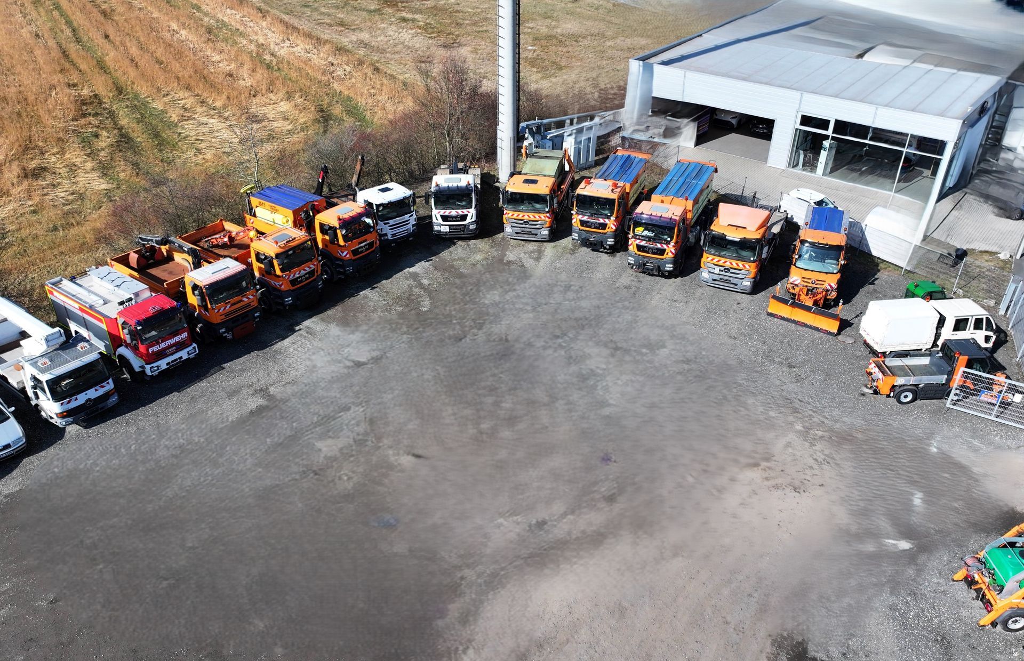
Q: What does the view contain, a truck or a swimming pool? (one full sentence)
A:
There is a truck in the scene.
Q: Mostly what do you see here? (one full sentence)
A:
For the most part, this view shows paved ground.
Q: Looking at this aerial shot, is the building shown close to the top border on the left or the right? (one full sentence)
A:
It is on the right.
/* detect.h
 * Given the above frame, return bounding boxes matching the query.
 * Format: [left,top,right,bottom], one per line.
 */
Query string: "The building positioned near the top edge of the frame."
[624,0,1024,207]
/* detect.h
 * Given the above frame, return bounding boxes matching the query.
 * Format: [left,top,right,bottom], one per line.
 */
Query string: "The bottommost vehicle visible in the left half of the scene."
[0,407,28,459]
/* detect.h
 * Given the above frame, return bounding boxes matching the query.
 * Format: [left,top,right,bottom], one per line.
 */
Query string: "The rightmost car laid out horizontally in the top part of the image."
[951,180,1024,215]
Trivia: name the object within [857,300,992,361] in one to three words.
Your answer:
truck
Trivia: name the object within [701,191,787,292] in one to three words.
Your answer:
truck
